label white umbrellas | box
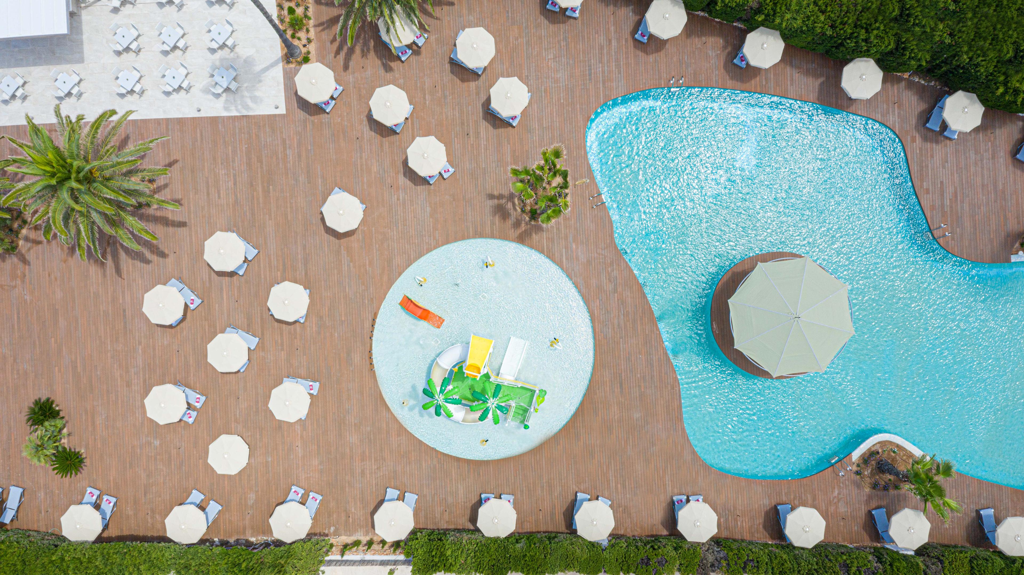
[208,332,248,372]
[742,27,785,70]
[268,281,310,324]
[555,0,585,8]
[888,508,930,550]
[270,380,312,422]
[574,498,615,540]
[476,498,517,539]
[369,84,412,127]
[62,502,103,543]
[677,501,718,541]
[406,135,447,176]
[144,284,186,326]
[295,63,337,105]
[489,76,529,116]
[645,0,687,39]
[269,499,312,542]
[784,506,826,548]
[841,58,882,100]
[323,192,365,234]
[145,382,187,424]
[206,232,247,272]
[165,503,208,545]
[941,91,985,133]
[373,500,415,541]
[994,516,1024,556]
[208,433,249,474]
[455,28,495,69]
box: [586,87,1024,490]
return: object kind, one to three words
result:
swimming pool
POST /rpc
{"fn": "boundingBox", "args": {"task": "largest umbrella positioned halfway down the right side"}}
[728,255,855,378]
